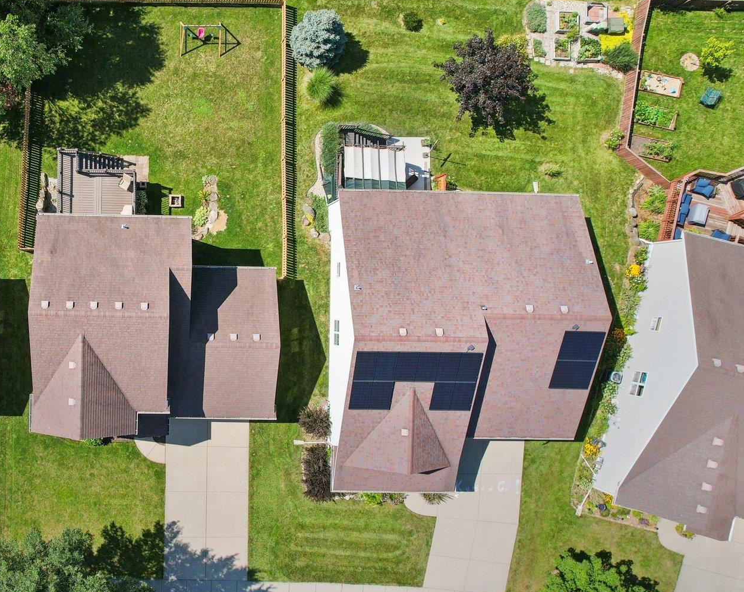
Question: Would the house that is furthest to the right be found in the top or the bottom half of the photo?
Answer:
bottom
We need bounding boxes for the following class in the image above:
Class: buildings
[25,212,282,441]
[579,231,744,541]
[298,184,618,492]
